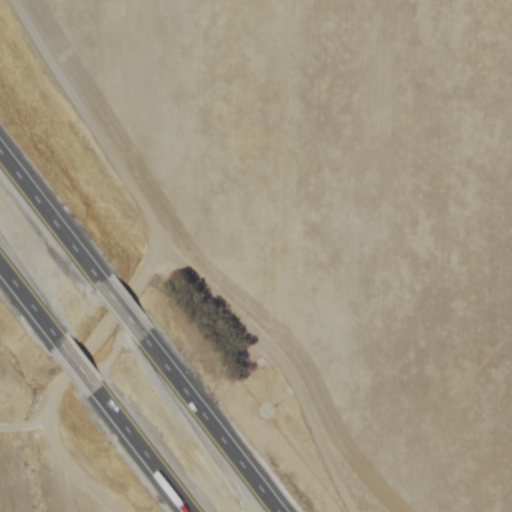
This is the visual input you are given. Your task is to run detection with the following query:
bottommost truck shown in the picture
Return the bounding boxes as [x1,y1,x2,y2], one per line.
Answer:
[154,472,189,512]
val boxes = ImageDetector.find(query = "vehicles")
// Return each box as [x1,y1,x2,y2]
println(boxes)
[188,403,198,414]
[154,472,189,512]
[108,401,118,412]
